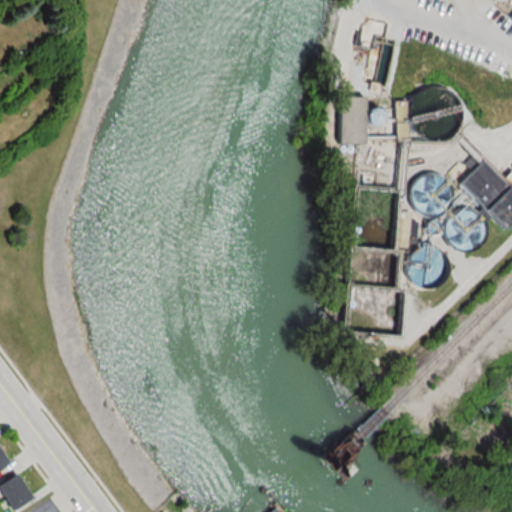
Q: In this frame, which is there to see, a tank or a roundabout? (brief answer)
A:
tank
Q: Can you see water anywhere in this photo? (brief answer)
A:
Yes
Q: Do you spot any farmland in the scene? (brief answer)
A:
No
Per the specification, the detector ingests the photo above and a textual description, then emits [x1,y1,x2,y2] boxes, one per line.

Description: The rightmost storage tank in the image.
[444,209,487,252]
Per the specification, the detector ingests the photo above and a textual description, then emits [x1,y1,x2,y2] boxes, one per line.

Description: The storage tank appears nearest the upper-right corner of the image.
[408,84,464,141]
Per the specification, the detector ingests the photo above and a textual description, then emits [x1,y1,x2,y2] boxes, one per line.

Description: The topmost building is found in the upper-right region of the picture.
[365,48,380,80]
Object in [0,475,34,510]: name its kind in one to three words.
house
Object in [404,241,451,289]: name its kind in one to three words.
storage tank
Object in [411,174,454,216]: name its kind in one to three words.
storage tank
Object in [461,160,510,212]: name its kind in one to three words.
building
